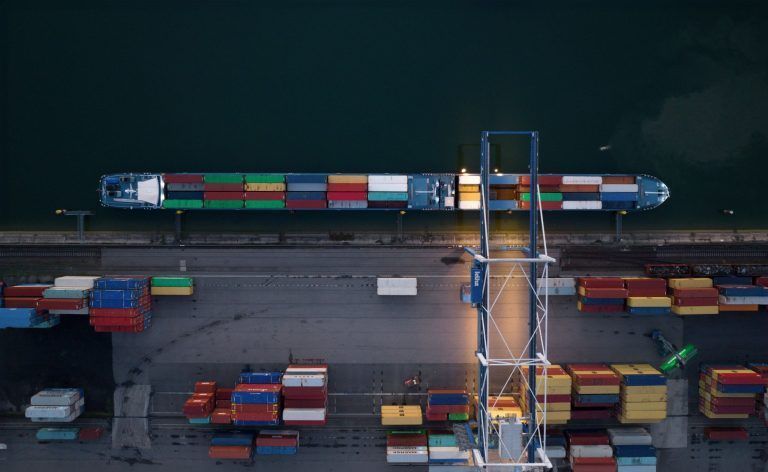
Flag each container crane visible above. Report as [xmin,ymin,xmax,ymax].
[450,130,561,470]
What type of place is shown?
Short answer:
port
